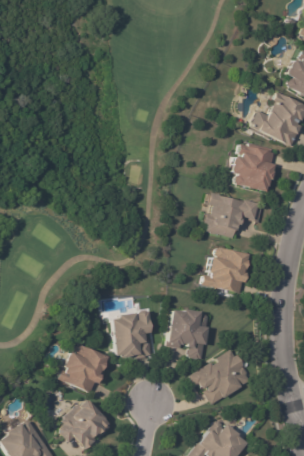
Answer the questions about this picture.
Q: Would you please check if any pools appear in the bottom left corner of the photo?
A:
Yes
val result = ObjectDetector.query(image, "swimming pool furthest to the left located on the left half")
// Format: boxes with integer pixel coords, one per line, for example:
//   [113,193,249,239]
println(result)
[0,396,30,433]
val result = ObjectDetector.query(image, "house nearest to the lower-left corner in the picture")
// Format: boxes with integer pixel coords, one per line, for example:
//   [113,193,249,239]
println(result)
[0,420,54,456]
